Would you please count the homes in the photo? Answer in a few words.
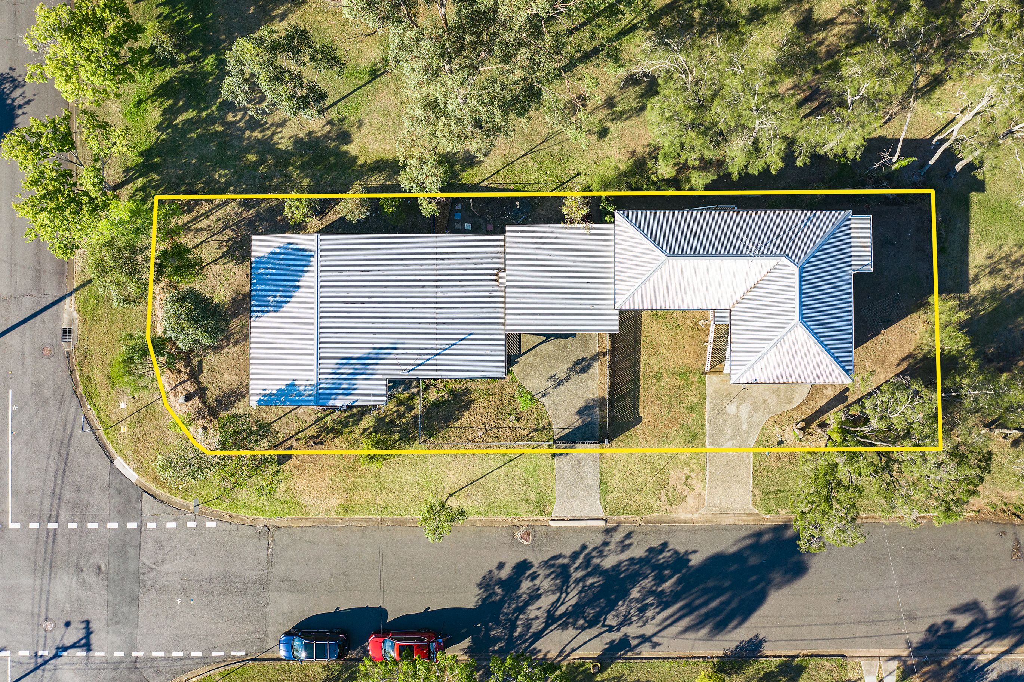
2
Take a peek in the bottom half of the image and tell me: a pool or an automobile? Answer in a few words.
automobile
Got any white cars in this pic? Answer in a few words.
No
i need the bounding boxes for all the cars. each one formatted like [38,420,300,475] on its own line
[280,628,350,665]
[368,629,441,665]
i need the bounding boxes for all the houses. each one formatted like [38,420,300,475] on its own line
[249,233,507,408]
[612,208,876,385]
